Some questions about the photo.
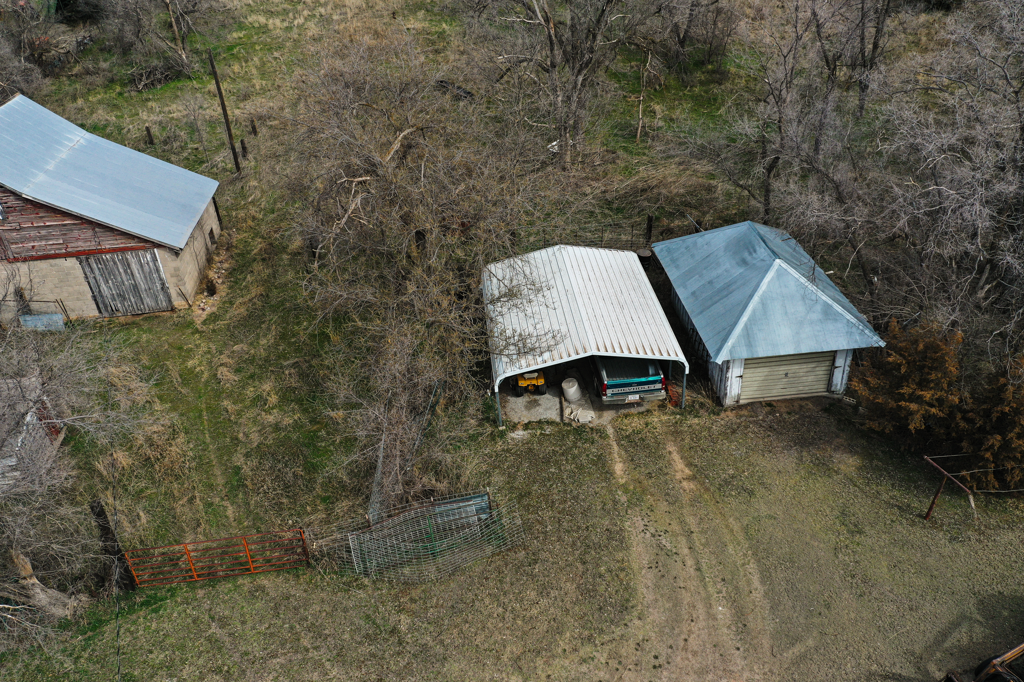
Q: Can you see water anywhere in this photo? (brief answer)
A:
No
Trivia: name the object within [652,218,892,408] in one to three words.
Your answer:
building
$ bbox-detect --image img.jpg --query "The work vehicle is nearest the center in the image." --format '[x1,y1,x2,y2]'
[514,370,547,397]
